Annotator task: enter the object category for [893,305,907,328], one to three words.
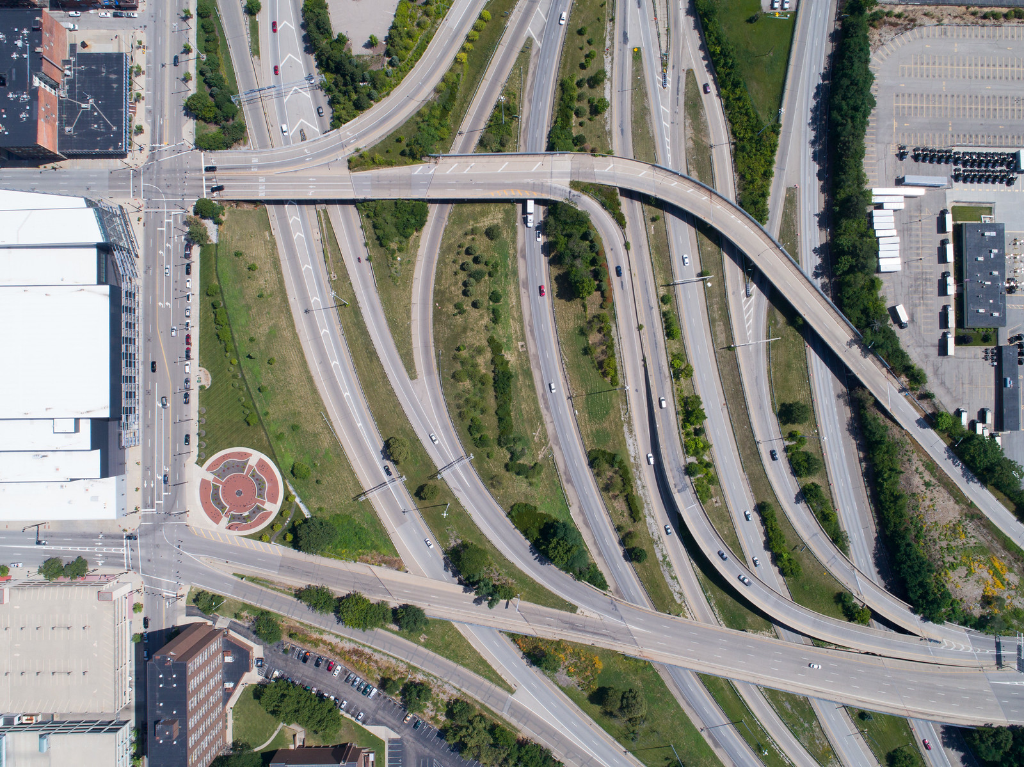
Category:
vehicle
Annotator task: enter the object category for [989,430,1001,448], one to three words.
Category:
vehicle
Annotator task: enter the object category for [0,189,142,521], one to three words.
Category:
building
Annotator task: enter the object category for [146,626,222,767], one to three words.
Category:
building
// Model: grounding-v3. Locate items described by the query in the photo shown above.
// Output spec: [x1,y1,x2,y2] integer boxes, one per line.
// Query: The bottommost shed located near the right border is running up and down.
[997,345,1020,430]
